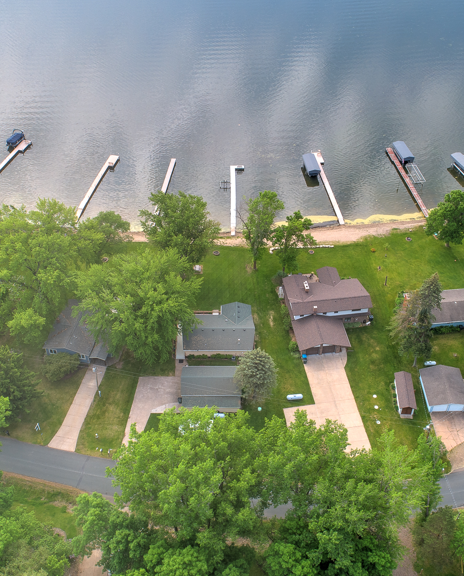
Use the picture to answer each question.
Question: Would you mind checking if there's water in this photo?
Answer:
Yes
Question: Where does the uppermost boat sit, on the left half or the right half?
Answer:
left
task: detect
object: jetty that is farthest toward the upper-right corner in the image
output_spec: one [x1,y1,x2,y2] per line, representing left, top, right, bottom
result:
[386,146,424,210]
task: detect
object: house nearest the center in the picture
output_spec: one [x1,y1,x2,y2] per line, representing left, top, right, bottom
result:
[174,297,254,361]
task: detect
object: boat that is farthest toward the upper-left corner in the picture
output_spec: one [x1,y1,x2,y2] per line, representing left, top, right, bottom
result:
[3,126,28,147]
